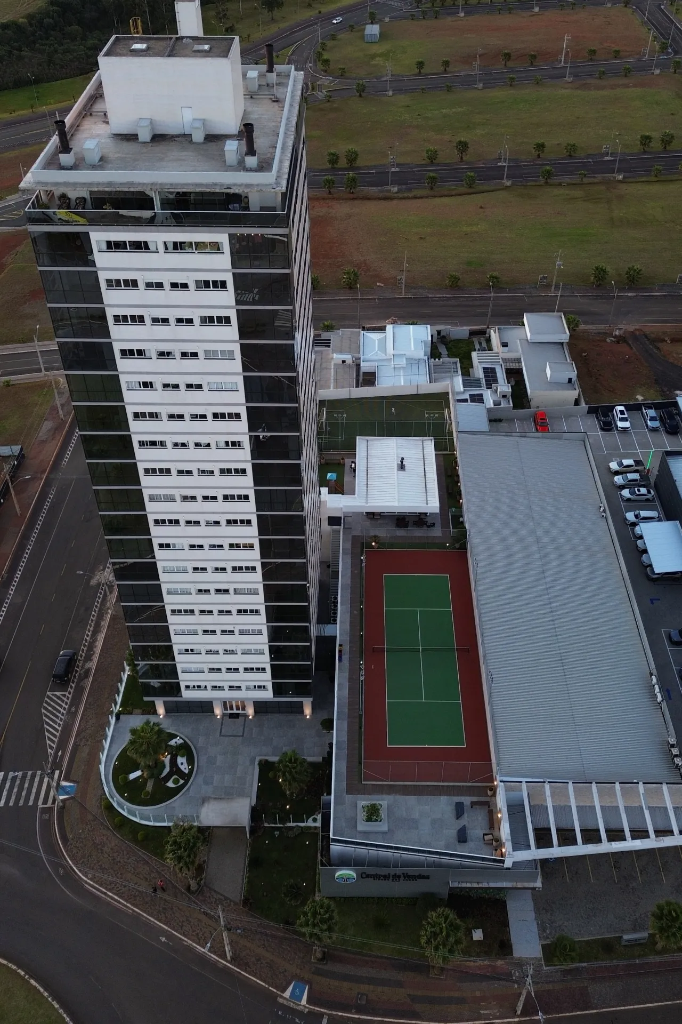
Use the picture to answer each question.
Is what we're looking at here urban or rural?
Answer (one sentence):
The land in this view is best described as urban.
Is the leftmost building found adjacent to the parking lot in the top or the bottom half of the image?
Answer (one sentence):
The top half of the photo is where the leftmost building found adjacent to the parking lot is.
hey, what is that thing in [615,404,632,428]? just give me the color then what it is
white car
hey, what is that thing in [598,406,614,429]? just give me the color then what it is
black car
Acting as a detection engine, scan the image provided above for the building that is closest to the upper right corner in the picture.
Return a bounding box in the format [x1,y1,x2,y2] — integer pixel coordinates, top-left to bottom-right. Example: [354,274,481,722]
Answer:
[494,313,577,407]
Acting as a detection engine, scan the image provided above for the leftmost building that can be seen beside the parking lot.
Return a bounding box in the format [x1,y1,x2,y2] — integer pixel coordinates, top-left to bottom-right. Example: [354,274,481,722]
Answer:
[19,0,321,715]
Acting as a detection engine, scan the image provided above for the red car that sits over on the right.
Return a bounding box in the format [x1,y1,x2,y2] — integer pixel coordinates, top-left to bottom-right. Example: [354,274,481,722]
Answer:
[535,407,550,431]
